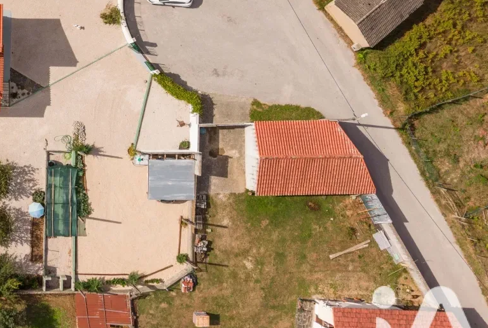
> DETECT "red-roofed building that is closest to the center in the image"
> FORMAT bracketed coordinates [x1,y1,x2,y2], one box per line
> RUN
[248,119,376,196]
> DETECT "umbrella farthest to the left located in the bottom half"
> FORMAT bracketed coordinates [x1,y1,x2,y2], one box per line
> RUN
[29,202,44,217]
